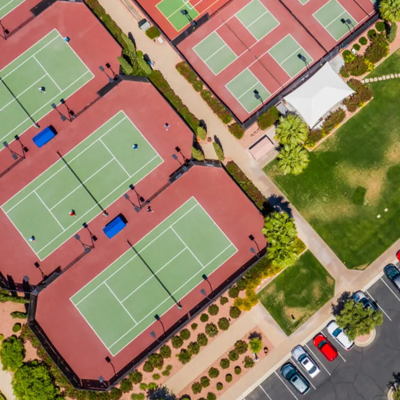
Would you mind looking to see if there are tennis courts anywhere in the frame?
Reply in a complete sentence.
Yes, you can see a tennis court in this photo.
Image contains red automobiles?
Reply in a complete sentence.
Yes, you can see a red automobile in this photo.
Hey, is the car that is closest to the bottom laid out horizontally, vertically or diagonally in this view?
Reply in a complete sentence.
Seen from above, the car that is closest to the bottom lies diagonally.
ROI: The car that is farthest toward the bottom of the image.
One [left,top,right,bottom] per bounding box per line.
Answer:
[281,361,310,396]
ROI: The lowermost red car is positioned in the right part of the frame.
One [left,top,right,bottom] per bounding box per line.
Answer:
[313,333,337,363]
